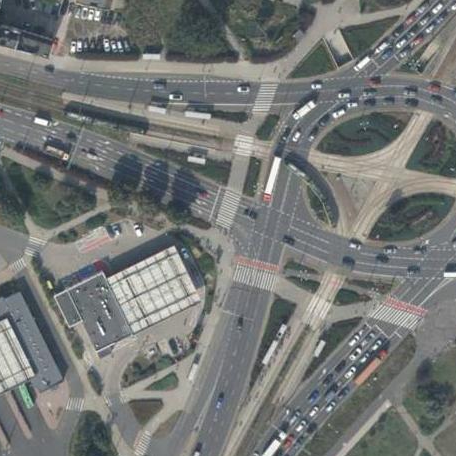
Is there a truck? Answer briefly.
Yes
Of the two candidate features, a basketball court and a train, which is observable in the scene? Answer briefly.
train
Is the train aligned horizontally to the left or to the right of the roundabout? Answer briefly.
on its left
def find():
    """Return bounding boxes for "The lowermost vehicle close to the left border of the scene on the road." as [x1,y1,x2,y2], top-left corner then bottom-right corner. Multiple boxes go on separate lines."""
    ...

[17,382,35,408]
